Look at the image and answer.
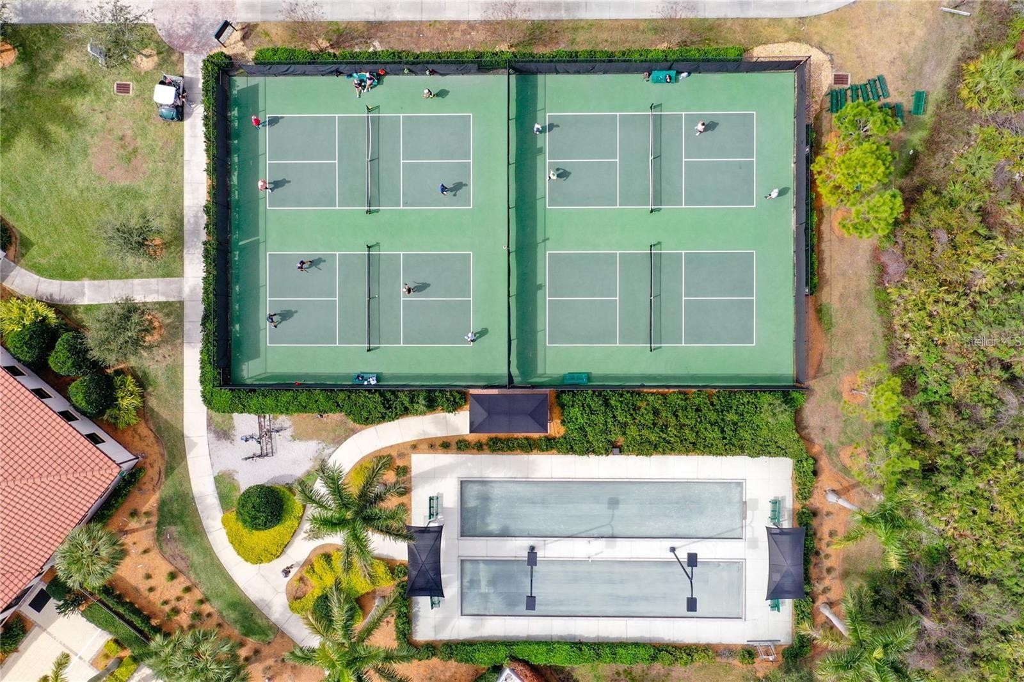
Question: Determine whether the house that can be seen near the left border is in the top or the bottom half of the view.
bottom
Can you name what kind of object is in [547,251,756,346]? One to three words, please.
sports court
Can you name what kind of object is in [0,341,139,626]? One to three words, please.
house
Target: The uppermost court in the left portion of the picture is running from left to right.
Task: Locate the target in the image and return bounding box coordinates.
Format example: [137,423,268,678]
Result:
[267,113,473,209]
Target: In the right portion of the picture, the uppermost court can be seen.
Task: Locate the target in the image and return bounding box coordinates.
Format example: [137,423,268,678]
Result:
[547,112,756,208]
